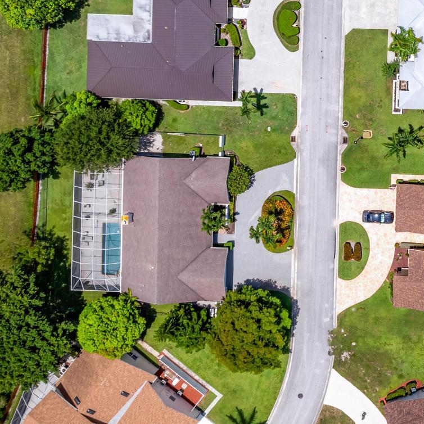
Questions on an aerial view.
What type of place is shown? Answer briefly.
residential area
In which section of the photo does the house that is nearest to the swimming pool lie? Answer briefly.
center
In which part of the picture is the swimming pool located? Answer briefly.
left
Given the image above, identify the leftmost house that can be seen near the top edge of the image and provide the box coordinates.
[85,0,236,101]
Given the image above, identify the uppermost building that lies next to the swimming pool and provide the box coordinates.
[115,152,232,305]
